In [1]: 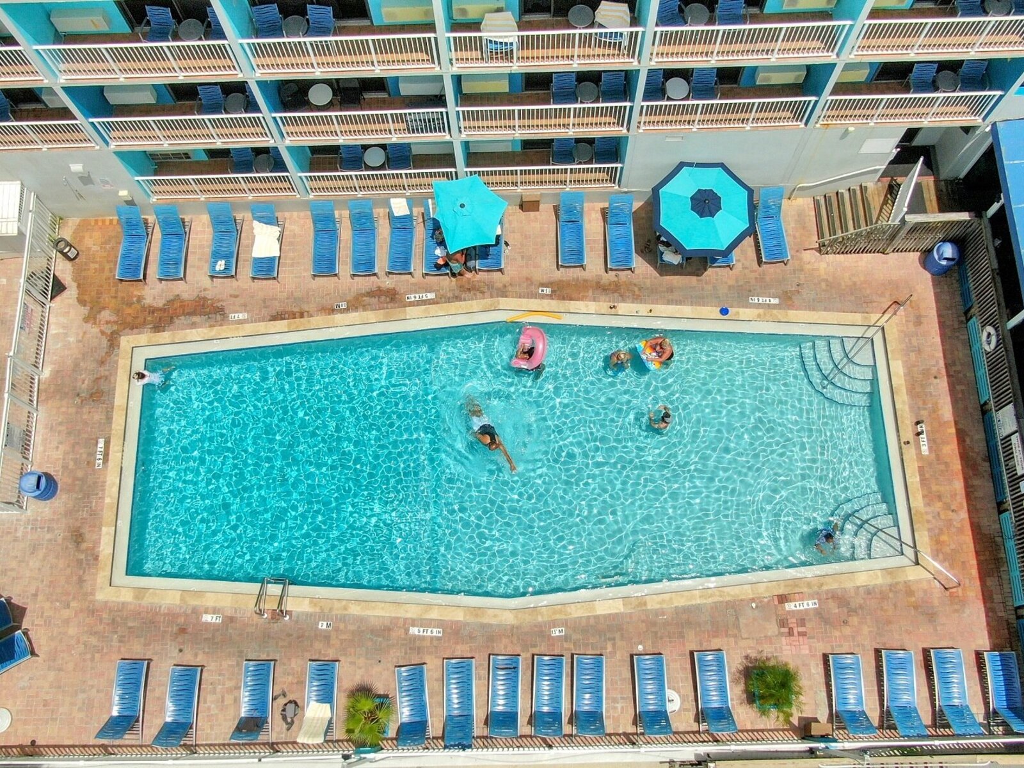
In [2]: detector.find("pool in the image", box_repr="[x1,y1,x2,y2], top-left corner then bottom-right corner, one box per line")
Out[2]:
[95,298,935,623]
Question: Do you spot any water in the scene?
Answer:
Yes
